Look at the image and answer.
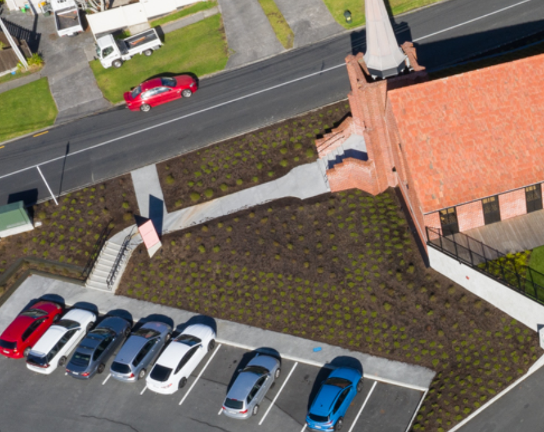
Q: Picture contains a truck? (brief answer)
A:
Yes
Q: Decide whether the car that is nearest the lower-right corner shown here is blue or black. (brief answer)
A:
blue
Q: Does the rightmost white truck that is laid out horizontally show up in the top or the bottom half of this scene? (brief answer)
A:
top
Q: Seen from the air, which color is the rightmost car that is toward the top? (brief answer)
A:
red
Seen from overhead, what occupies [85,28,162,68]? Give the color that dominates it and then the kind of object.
white truck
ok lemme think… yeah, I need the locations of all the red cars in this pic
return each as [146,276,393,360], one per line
[0,302,61,363]
[125,74,198,110]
